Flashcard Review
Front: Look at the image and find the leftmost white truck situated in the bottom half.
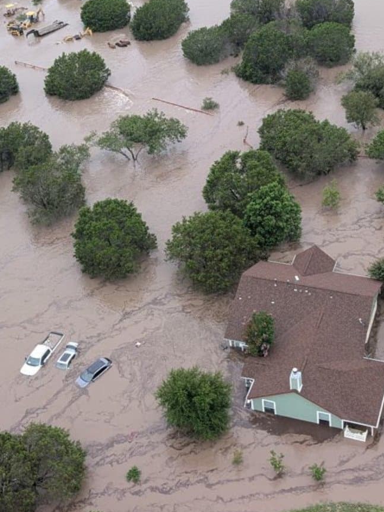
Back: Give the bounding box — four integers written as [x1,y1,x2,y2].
[16,332,66,378]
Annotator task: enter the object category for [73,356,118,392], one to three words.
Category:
car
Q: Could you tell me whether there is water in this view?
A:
Yes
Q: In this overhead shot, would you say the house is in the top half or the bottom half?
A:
bottom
